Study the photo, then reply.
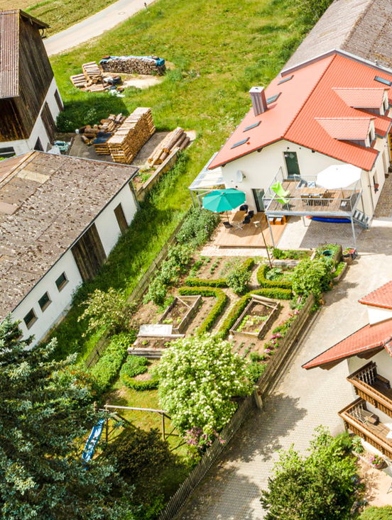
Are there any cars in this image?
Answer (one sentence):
No, no car can be seen from above.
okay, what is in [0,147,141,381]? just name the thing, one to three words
shed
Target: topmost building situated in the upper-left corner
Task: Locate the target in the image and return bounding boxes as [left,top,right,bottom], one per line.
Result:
[0,9,63,152]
